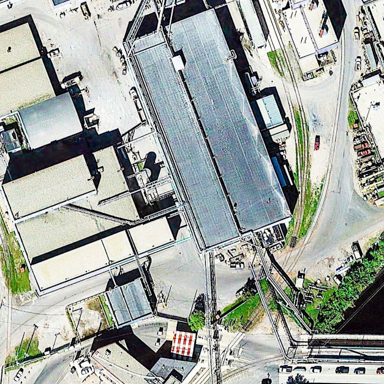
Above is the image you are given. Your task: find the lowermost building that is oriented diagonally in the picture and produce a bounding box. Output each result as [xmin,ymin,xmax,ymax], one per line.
[92,343,156,384]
